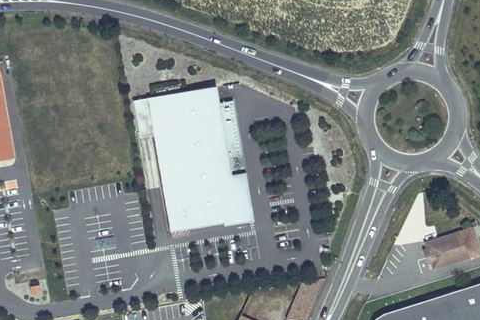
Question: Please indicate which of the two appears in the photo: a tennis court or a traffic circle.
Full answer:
Looking from above, you can make out a traffic circle.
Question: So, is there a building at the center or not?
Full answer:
Yes, there is a building at the center.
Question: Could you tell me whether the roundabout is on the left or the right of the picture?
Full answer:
It is on the right.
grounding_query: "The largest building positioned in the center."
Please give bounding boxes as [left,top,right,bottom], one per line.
[134,87,254,236]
